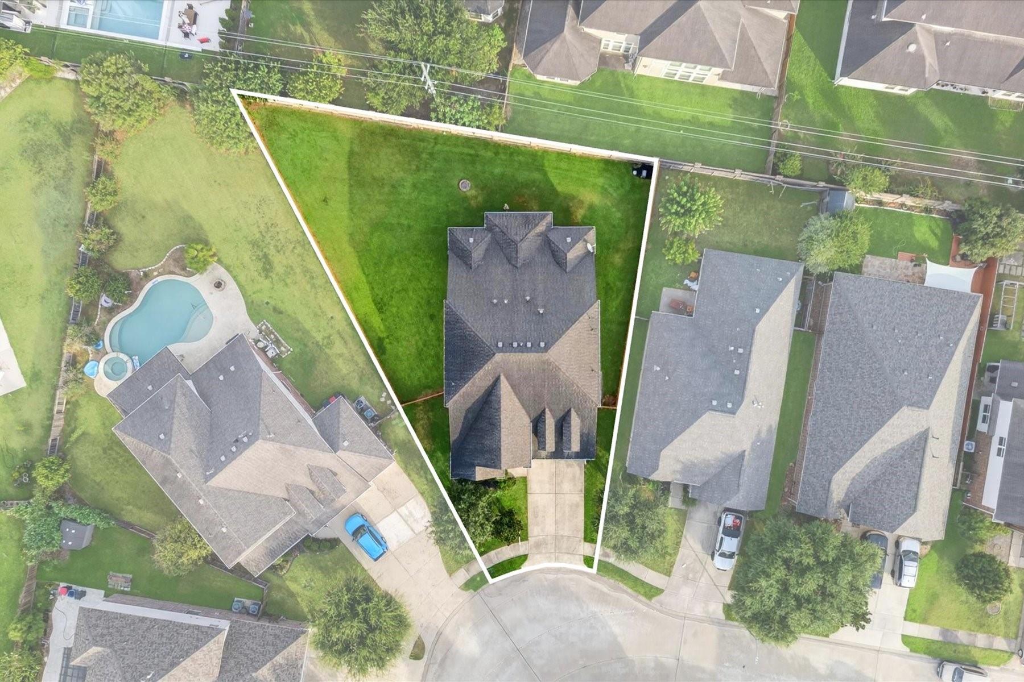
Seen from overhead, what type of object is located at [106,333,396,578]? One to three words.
house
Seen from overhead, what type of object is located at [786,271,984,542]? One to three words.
house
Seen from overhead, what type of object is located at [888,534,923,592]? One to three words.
car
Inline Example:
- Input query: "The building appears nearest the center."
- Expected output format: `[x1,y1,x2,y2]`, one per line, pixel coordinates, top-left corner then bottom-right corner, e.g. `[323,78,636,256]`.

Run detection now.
[442,211,602,481]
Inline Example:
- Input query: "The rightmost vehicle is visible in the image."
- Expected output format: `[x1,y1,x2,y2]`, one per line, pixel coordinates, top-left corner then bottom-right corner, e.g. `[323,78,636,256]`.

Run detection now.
[933,656,993,682]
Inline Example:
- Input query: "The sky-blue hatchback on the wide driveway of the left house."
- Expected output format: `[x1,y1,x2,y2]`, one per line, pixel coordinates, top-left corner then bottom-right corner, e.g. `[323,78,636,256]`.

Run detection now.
[346,510,388,563]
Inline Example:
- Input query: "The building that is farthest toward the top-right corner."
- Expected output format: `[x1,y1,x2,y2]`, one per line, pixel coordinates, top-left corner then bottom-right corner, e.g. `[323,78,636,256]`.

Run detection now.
[829,0,1024,105]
